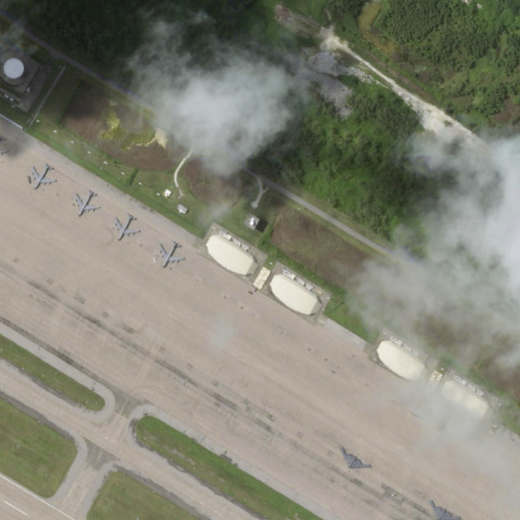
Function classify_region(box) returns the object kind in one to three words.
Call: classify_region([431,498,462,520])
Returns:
airplane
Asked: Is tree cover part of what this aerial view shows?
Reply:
Yes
